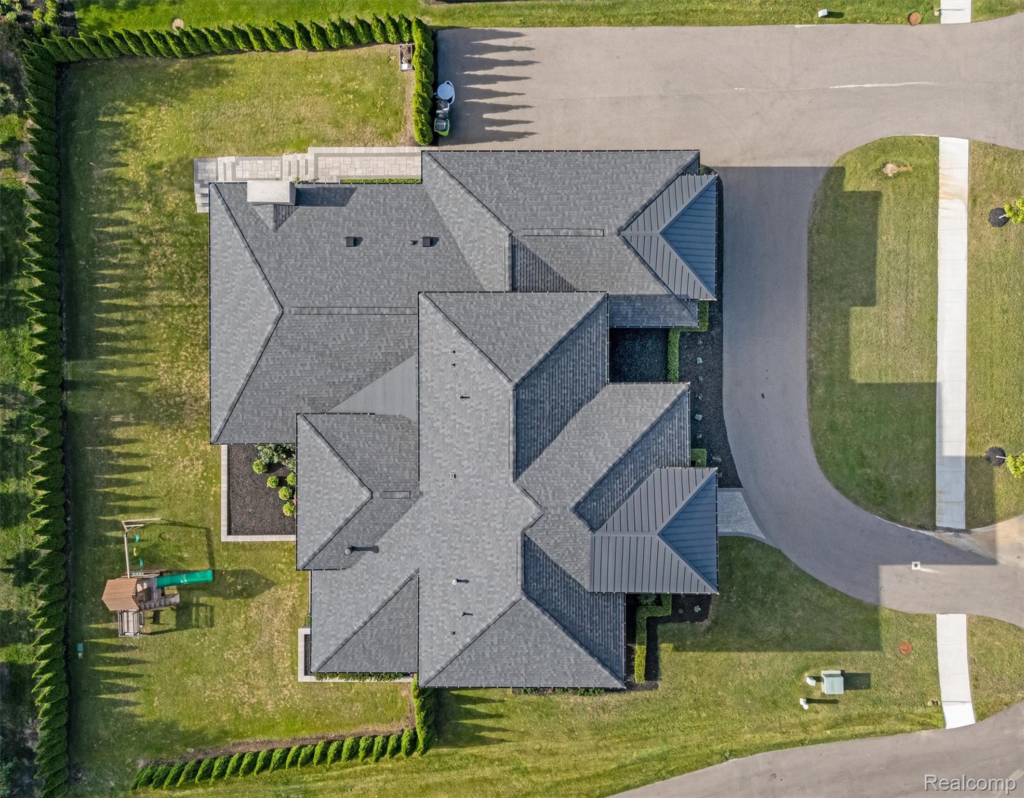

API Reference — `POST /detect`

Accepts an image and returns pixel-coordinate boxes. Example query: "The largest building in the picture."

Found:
[209,151,718,688]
